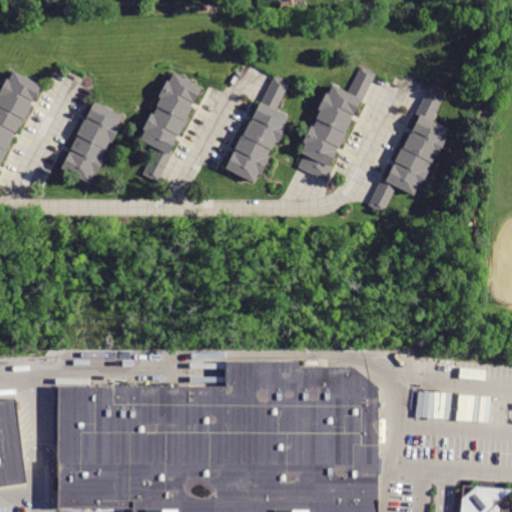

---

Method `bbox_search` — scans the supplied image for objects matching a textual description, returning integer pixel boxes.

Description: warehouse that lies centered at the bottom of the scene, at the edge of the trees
[58,360,382,512]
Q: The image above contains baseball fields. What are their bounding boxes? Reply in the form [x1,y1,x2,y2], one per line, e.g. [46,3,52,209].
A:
[486,88,512,311]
